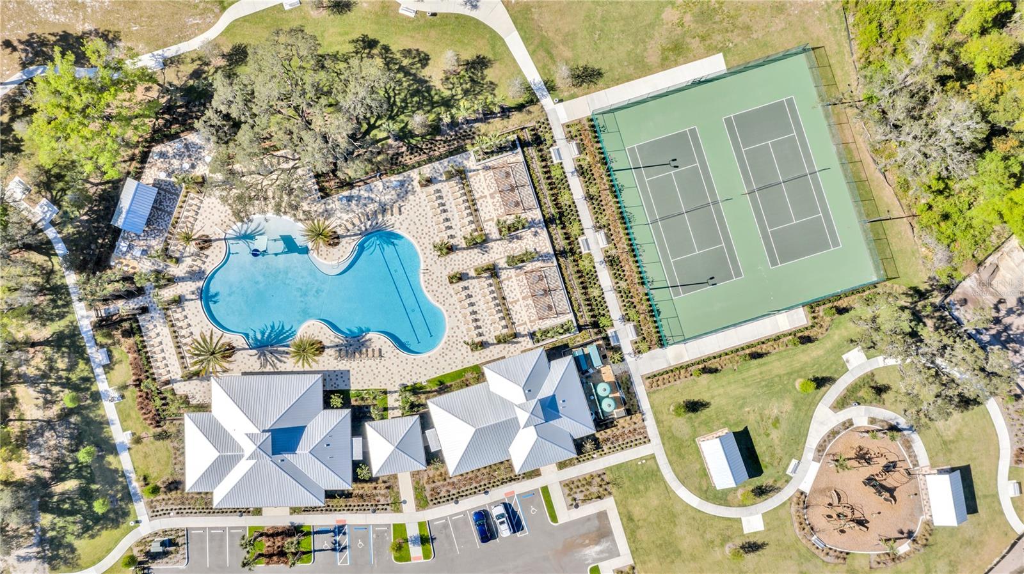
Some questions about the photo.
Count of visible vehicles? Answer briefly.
2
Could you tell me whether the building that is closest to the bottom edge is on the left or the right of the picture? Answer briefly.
right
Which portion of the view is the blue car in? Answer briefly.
bottom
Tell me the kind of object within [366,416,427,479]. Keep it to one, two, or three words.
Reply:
building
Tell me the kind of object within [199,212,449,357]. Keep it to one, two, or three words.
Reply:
swimming pool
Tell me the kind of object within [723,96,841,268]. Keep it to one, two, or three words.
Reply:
tennis court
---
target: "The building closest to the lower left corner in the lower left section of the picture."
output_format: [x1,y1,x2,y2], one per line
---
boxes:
[184,374,353,508]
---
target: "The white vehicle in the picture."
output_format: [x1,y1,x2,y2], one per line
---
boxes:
[491,506,511,541]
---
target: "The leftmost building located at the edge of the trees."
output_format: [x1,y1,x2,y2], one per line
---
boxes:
[111,178,164,234]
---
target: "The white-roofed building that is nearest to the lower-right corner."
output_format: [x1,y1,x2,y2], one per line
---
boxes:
[919,467,967,527]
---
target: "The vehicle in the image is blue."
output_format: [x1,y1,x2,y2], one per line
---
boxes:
[473,511,493,545]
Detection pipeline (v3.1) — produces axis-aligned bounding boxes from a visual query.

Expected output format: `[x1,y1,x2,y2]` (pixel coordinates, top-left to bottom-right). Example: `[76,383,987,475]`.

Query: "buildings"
[366,416,427,479]
[919,467,967,527]
[111,178,164,234]
[699,431,749,490]
[184,374,353,508]
[429,348,597,477]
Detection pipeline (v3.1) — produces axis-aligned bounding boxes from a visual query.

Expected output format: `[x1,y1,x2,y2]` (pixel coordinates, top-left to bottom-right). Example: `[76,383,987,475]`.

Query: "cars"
[491,506,511,541]
[473,511,493,545]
